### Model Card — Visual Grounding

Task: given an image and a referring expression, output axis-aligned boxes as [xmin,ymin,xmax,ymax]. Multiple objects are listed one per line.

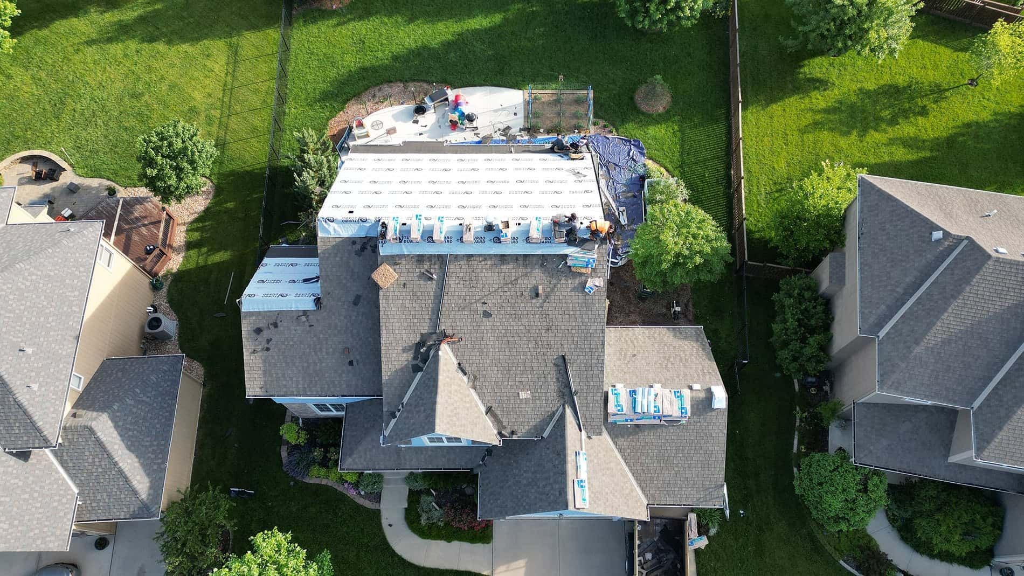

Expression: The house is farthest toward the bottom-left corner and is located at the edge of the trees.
[0,186,207,552]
